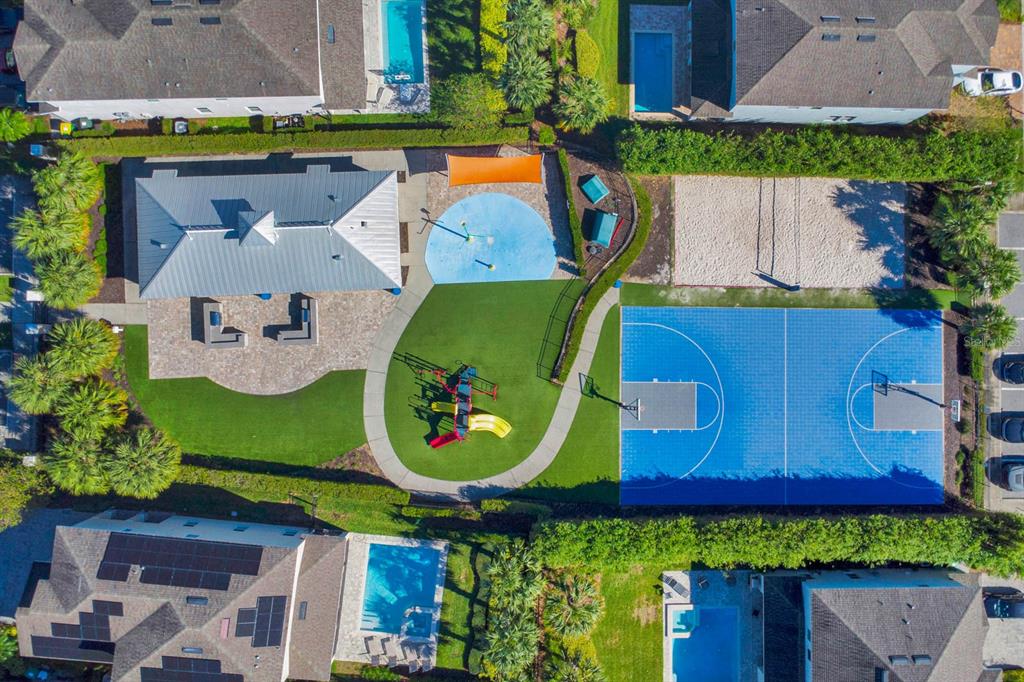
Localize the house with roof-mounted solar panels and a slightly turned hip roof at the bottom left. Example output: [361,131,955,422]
[16,513,348,682]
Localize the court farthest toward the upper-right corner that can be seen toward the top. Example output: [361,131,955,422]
[674,175,908,289]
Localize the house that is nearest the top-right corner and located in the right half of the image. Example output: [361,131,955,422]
[682,0,1000,129]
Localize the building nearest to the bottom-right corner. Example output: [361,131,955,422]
[752,568,1002,682]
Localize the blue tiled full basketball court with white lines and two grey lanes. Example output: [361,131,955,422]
[619,305,945,505]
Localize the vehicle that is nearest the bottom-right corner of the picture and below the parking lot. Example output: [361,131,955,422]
[985,589,1024,620]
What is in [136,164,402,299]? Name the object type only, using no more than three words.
building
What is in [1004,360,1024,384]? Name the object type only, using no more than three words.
car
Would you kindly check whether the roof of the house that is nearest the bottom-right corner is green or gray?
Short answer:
gray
